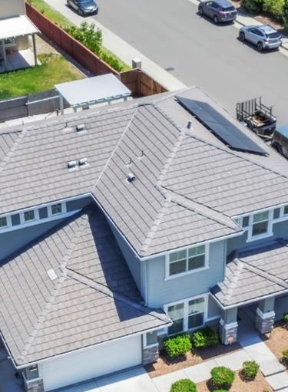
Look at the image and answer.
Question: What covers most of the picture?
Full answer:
The bulk of the photo consists of buildings.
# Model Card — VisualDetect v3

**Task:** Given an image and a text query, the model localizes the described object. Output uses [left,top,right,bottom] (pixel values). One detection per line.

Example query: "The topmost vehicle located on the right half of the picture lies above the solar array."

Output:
[198,0,238,23]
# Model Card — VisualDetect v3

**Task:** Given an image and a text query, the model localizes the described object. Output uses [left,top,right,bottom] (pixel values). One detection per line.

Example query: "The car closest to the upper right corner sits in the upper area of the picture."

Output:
[238,19,286,51]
